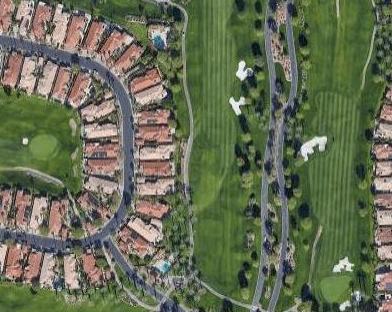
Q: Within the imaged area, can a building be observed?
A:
Yes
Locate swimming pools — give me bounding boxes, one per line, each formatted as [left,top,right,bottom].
[151,27,169,54]
[155,259,172,274]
